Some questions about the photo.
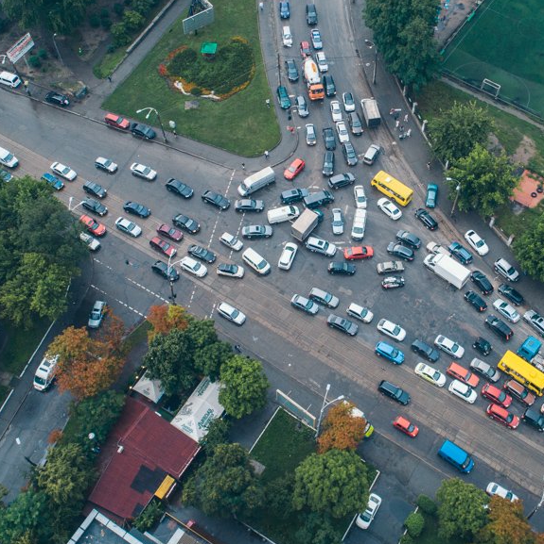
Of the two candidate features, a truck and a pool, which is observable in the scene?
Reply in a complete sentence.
This aerial view contains a truck.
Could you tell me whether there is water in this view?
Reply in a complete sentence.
No, there's no water in this view.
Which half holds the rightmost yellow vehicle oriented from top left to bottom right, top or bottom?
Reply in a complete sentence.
It is in the bottom half that the rightmost yellow vehicle oriented from top left to bottom right appears.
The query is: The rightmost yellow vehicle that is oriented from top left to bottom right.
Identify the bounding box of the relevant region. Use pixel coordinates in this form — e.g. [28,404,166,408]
[497,351,544,399]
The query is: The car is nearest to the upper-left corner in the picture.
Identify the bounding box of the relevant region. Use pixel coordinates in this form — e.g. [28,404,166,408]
[0,71,23,89]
